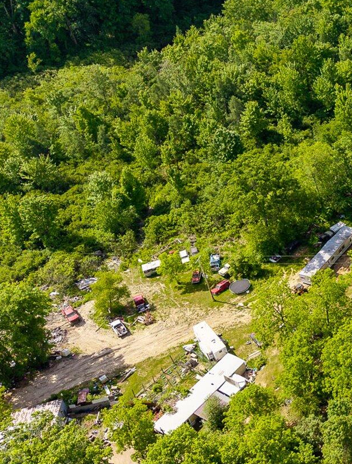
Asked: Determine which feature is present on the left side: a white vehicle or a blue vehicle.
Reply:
white vehicle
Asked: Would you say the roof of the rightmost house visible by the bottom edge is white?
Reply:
Yes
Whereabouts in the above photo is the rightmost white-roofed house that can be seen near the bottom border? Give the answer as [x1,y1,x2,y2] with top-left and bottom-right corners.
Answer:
[153,352,250,445]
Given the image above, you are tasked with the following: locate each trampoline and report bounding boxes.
[228,279,251,295]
